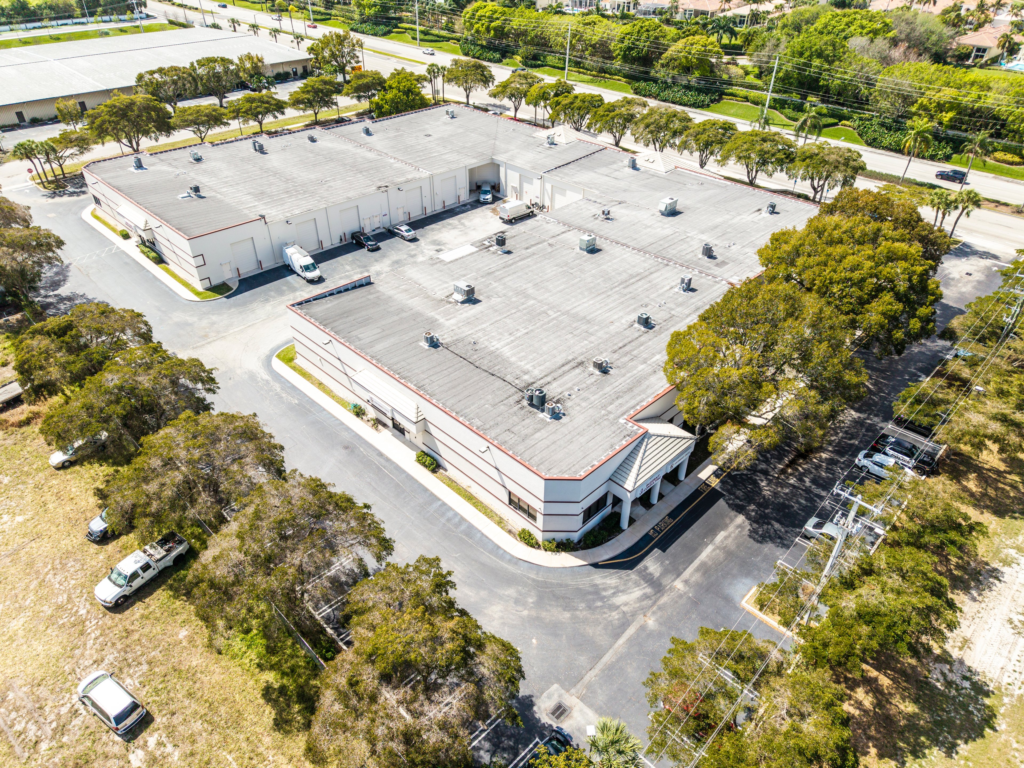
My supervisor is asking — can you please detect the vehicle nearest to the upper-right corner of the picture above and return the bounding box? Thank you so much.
[933,168,971,183]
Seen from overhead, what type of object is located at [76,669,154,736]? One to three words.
car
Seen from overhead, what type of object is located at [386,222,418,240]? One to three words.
car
